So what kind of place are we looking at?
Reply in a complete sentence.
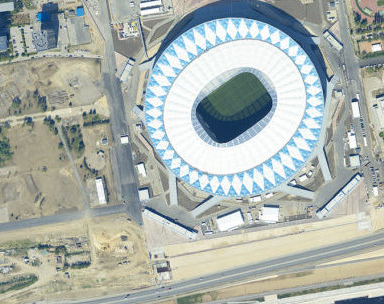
The picture captures a sports ground.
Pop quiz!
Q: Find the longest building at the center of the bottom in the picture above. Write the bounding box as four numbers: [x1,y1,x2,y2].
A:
[143,207,197,239]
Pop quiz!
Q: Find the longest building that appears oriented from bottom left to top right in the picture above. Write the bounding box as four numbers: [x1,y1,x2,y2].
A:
[317,173,362,218]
